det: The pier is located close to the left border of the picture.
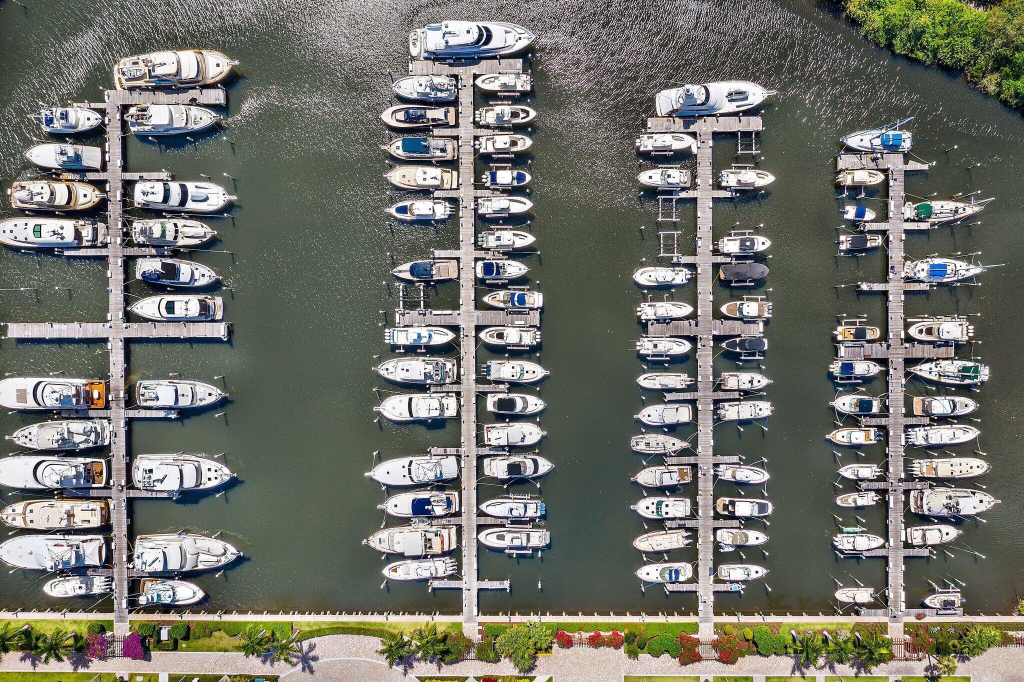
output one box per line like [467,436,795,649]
[7,90,229,623]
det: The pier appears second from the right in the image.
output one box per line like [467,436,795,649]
[647,117,763,623]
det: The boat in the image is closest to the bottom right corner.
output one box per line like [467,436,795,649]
[920,591,969,609]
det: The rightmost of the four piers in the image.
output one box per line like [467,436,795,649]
[836,154,963,623]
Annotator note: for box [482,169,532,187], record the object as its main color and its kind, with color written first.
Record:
white boat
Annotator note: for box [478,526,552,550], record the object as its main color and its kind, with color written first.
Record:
white boat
